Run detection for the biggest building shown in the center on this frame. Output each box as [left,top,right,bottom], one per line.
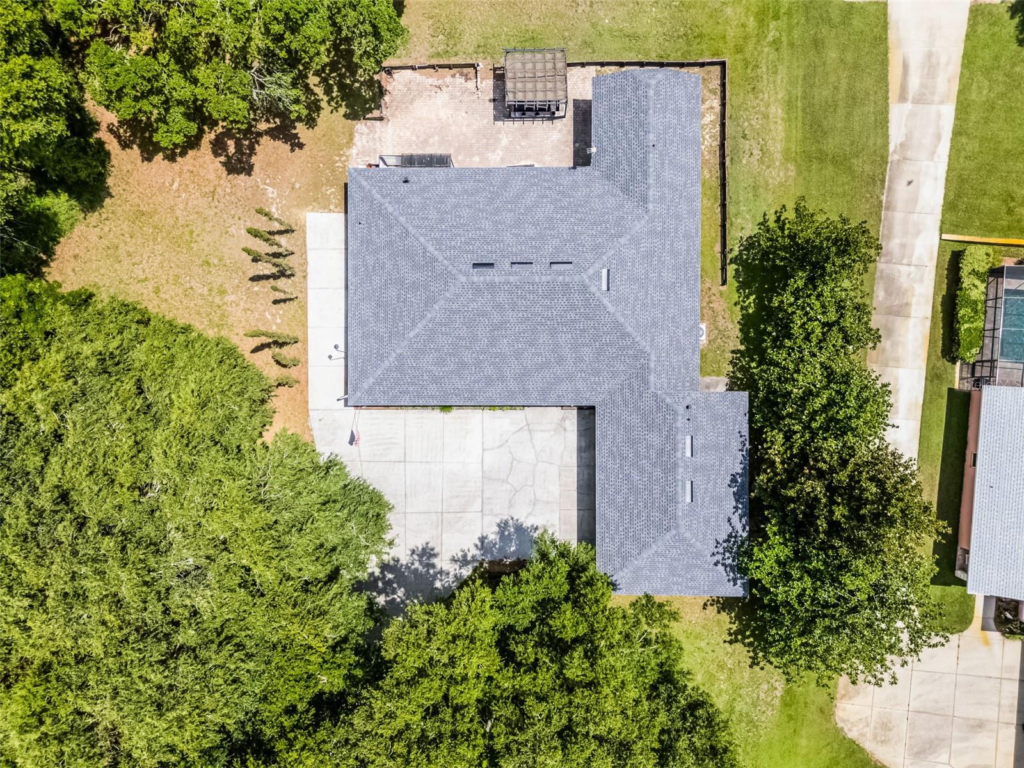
[340,67,750,598]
